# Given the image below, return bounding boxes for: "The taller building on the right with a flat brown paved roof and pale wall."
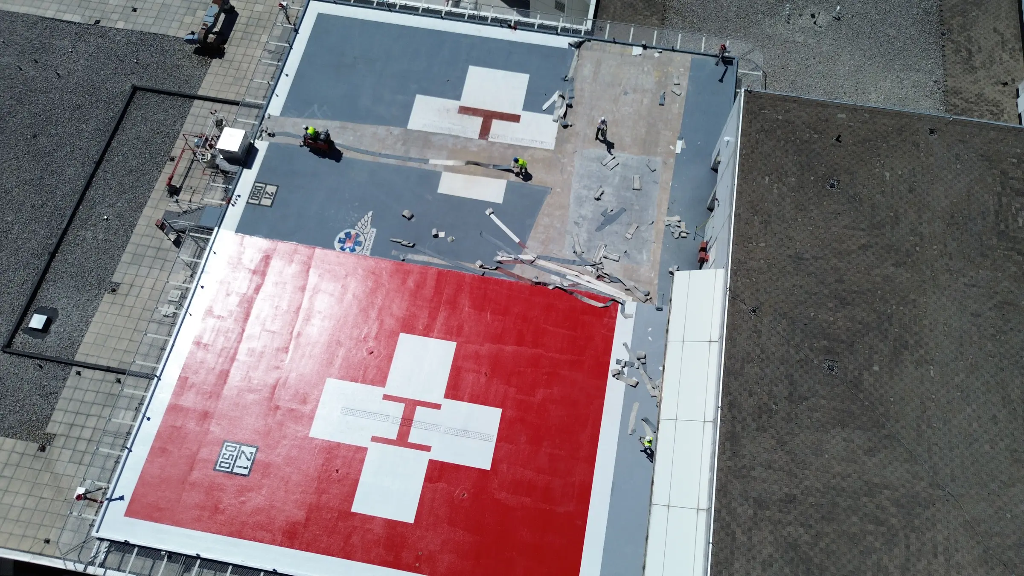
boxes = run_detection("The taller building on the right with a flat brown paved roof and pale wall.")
[640,89,1024,576]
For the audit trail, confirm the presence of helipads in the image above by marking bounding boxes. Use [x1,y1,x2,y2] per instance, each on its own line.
[87,0,740,576]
